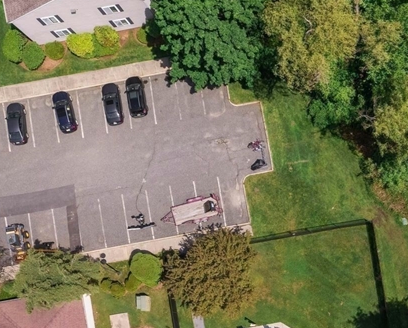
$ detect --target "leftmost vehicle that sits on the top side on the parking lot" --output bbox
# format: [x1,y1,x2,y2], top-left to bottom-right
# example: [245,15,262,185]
[5,102,32,146]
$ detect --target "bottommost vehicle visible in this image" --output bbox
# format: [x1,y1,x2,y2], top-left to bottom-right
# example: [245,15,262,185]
[6,226,33,262]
